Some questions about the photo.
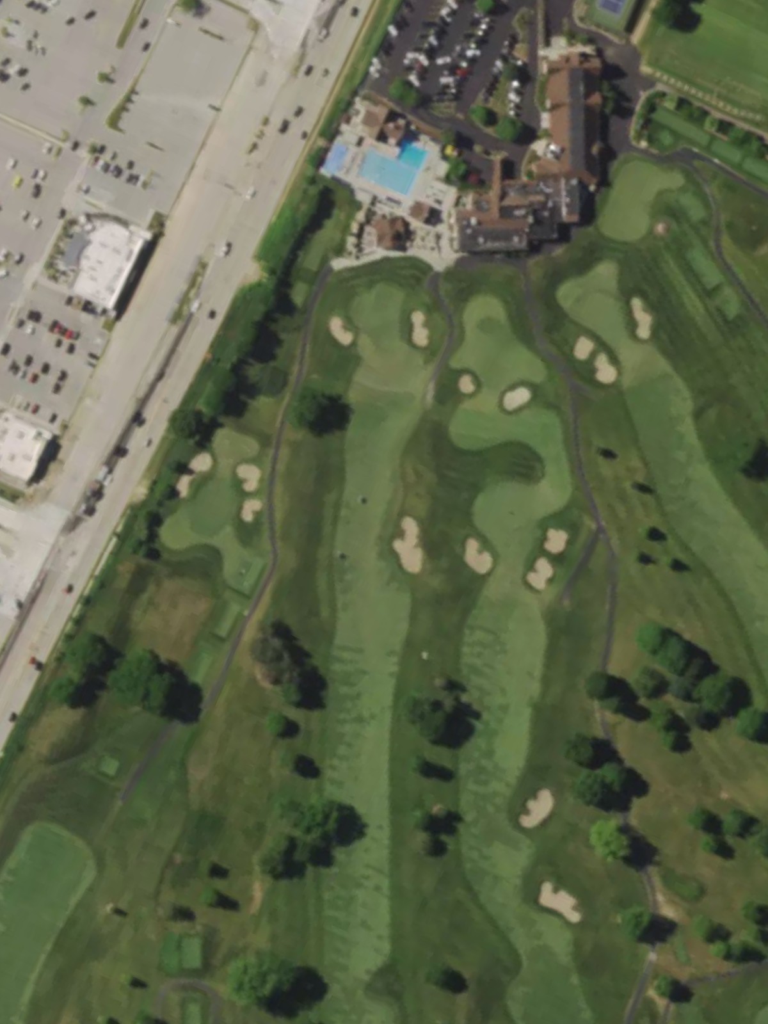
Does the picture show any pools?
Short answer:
Yes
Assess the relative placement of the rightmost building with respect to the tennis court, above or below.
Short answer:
below it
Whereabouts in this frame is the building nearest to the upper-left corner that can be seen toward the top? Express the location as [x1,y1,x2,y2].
[63,213,152,316]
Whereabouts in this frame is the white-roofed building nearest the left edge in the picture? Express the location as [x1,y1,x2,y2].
[0,408,52,483]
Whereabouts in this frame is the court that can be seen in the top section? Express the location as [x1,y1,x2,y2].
[575,0,642,39]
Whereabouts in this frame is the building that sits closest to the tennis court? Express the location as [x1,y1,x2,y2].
[457,51,604,254]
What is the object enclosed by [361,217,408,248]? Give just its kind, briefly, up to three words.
building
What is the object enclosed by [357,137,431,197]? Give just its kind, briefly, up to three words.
swimming pool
